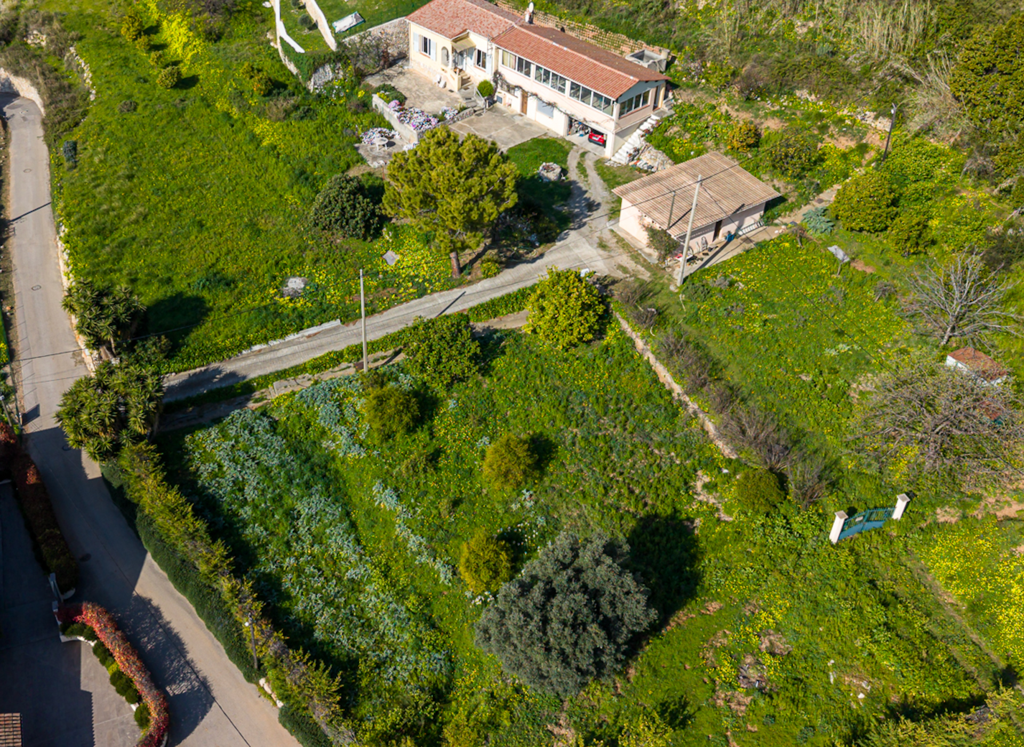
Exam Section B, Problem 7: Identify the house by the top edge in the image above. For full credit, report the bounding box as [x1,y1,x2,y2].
[403,0,690,163]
